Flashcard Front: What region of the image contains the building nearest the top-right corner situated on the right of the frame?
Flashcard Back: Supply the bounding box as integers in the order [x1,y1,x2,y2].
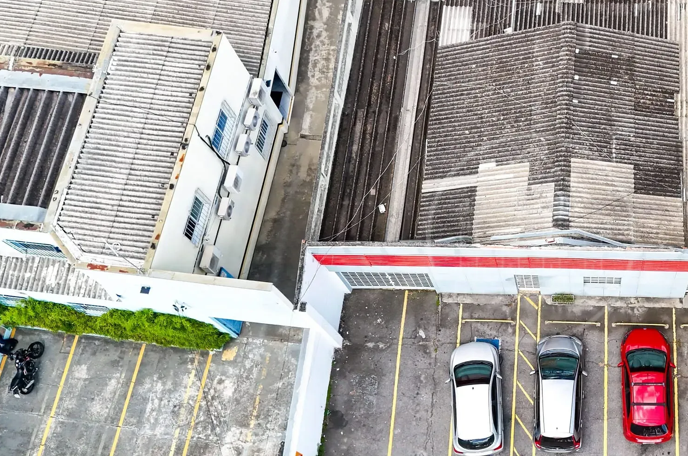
[304,0,688,309]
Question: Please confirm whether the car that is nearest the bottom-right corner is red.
Yes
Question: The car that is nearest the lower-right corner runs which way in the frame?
from top to bottom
